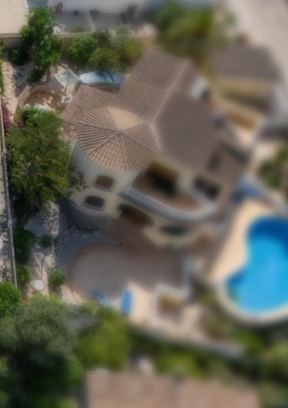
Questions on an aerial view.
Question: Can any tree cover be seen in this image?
Yes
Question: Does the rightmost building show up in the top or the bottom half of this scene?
top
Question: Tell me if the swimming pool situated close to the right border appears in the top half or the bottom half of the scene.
bottom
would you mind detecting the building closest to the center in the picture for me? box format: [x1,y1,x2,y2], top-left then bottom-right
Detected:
[60,50,247,255]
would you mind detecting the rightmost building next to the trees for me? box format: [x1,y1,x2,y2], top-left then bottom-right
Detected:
[202,45,277,104]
